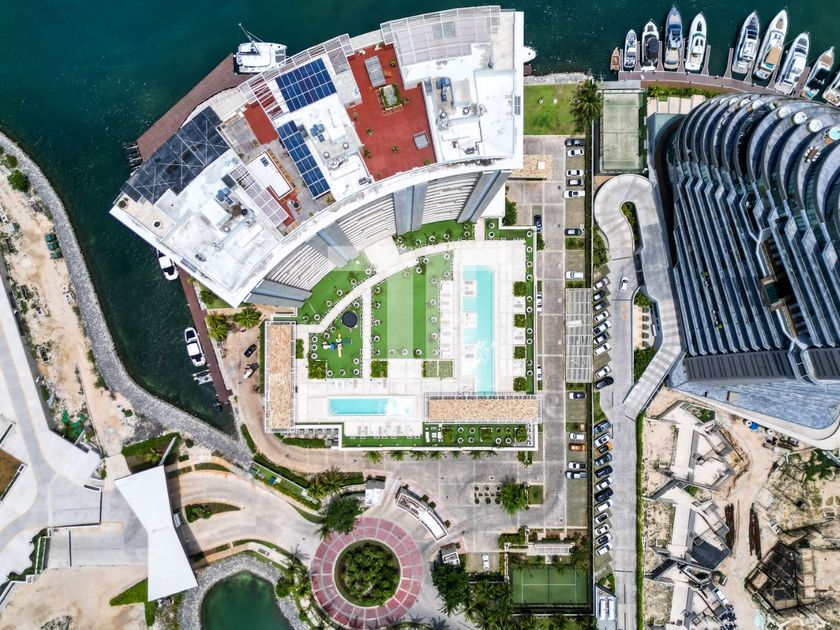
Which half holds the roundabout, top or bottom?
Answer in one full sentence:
Seen from above, the roundabout lies in the bottom half of the view.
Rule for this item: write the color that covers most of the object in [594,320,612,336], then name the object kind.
white vehicle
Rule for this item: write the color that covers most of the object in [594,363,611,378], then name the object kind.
white car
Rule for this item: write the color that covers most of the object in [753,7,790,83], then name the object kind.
white boat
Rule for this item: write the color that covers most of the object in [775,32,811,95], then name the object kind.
white boat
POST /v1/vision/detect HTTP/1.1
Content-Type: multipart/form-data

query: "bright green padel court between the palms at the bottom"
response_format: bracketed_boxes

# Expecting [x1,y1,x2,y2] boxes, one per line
[512,565,590,611]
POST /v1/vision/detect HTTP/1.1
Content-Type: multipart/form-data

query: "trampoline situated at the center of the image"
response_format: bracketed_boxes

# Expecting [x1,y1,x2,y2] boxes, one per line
[340,311,357,327]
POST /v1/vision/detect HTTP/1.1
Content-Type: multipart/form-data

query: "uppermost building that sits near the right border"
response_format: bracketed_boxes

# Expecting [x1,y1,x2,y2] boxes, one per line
[656,91,840,357]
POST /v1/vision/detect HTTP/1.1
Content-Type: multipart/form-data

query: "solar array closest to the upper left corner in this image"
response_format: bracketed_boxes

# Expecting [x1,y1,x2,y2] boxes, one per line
[276,58,339,114]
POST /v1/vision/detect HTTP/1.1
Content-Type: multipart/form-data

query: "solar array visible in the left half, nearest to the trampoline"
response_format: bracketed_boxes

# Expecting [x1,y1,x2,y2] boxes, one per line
[276,121,332,202]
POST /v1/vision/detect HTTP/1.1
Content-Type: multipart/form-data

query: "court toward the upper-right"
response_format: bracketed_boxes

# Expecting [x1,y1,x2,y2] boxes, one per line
[604,87,646,171]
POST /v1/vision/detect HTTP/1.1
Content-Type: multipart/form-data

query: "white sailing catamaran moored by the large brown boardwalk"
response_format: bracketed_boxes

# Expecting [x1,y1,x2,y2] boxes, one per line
[238,23,287,73]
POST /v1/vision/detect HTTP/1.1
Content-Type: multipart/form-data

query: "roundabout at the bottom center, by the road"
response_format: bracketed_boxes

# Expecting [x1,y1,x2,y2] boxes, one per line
[310,516,424,630]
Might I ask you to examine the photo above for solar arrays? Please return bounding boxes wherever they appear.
[276,121,332,202]
[276,58,339,114]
